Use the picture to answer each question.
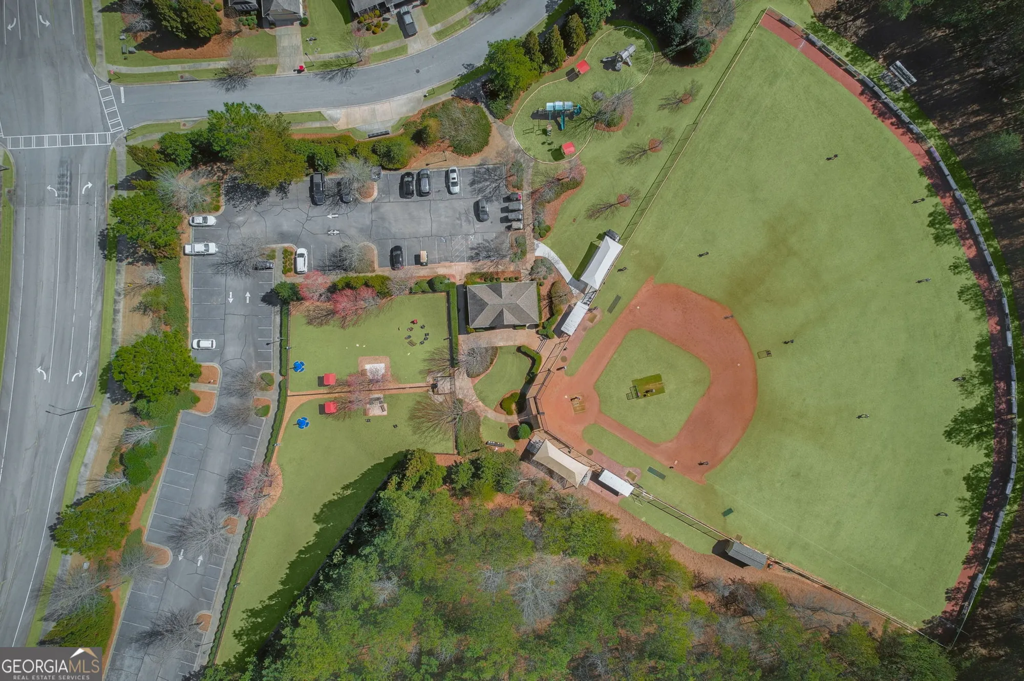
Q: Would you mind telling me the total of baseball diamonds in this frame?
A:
1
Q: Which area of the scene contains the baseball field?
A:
right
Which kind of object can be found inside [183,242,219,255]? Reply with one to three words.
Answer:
vehicle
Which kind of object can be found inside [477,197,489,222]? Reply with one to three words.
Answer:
vehicle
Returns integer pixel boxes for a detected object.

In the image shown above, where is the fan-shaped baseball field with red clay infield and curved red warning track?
[536,11,1010,644]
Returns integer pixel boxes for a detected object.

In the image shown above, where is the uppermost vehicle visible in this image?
[400,4,419,37]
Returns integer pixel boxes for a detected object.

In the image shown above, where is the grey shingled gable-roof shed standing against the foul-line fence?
[727,541,767,570]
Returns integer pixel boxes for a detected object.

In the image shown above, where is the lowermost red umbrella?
[325,402,338,414]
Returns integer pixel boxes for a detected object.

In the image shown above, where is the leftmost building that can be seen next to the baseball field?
[467,280,540,328]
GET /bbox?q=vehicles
[252,259,277,271]
[401,172,414,199]
[418,168,431,197]
[183,242,219,255]
[295,248,308,273]
[419,249,427,265]
[477,197,489,222]
[605,230,619,242]
[339,177,352,204]
[400,4,419,37]
[509,202,522,211]
[190,214,217,227]
[511,221,523,229]
[447,167,459,194]
[508,212,522,221]
[508,193,523,202]
[311,172,325,206]
[192,338,217,350]
[391,245,403,270]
